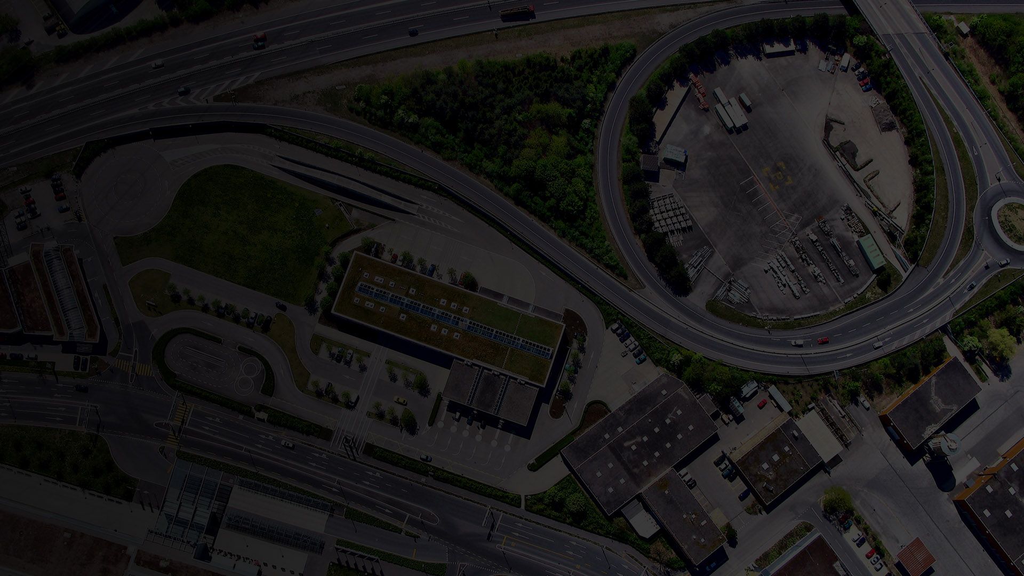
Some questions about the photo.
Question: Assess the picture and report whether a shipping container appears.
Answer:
Yes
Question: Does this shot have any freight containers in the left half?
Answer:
No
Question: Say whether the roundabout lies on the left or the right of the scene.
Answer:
right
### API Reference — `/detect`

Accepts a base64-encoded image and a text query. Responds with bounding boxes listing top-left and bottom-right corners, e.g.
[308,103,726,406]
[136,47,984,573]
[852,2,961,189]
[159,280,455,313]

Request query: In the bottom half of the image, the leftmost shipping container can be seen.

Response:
[766,388,792,413]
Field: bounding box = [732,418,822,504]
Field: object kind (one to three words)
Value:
building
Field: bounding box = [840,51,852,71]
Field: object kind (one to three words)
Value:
vehicle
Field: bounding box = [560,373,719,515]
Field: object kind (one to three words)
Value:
building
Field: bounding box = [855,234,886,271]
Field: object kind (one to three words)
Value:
shed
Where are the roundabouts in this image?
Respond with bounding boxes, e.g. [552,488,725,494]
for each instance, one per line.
[939,143,1024,292]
